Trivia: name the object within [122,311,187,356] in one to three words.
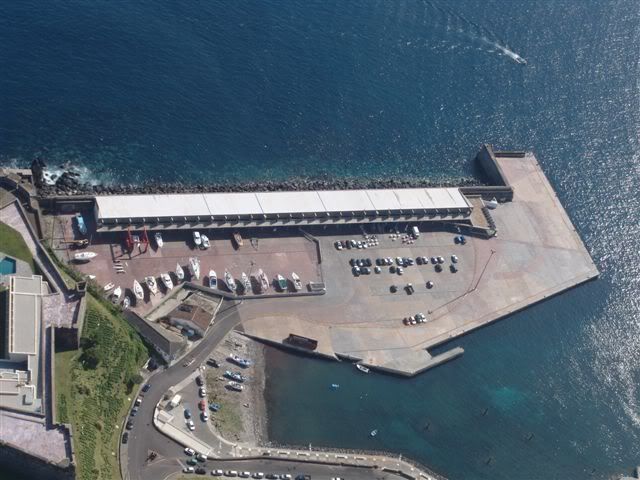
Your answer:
shed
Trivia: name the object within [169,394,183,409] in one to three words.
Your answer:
vehicle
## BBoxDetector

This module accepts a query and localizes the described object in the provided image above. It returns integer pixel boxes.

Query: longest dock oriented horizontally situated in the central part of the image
[52,152,598,379]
